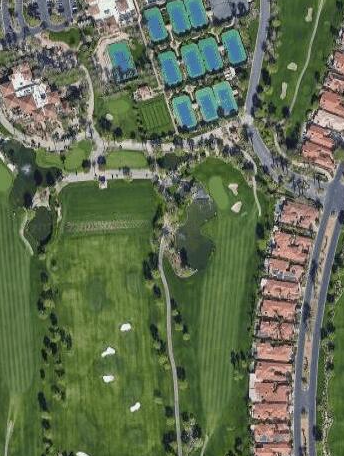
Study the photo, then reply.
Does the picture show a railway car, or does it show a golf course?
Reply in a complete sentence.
It is a golf course that can be seen here.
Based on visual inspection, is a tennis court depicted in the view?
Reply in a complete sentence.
Yes, the image includes a tennis court.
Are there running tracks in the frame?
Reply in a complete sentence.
No, I can see no running track in this picture.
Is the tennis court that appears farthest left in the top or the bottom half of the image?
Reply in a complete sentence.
Seen from above, the tennis court that appears farthest left lies in the top half of the view.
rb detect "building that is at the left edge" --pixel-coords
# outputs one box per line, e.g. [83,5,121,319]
[0,60,67,129]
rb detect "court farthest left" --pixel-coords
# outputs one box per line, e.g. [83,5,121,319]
[108,42,135,76]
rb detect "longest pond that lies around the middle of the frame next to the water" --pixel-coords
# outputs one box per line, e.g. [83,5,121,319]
[176,196,217,274]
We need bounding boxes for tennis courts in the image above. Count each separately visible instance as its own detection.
[182,44,203,77]
[173,95,196,128]
[199,38,222,72]
[108,42,135,76]
[144,7,167,41]
[213,81,236,115]
[185,0,207,27]
[159,51,183,84]
[210,0,233,20]
[195,87,219,121]
[167,0,191,32]
[223,30,245,63]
